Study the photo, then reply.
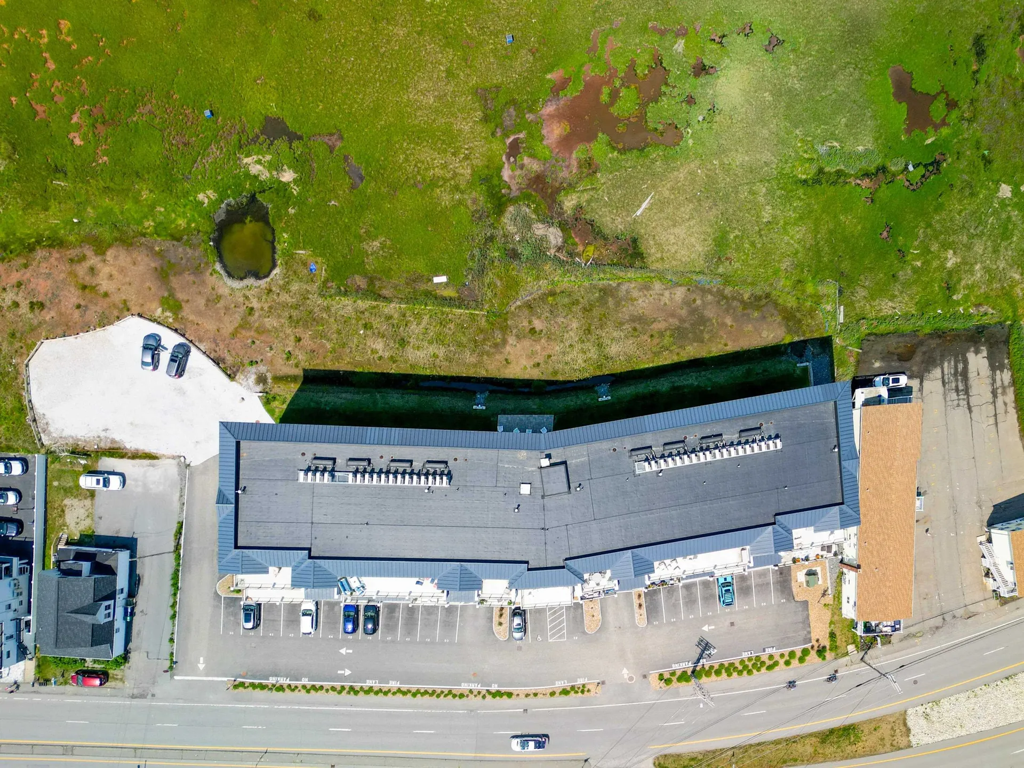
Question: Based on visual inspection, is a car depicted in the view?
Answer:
Yes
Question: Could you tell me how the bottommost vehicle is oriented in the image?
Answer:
from side to side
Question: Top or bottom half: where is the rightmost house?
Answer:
bottom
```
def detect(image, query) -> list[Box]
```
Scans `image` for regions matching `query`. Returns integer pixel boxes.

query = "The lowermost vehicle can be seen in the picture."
[510,732,548,752]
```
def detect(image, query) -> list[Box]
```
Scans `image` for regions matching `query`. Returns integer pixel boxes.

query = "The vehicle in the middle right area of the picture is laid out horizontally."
[871,373,907,388]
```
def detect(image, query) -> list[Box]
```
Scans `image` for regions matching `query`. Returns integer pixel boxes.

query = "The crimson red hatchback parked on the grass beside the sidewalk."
[73,669,107,686]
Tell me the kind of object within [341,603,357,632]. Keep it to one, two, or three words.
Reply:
car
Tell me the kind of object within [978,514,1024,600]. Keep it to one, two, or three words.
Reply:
house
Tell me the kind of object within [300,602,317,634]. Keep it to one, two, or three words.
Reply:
car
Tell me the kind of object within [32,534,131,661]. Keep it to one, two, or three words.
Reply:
house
